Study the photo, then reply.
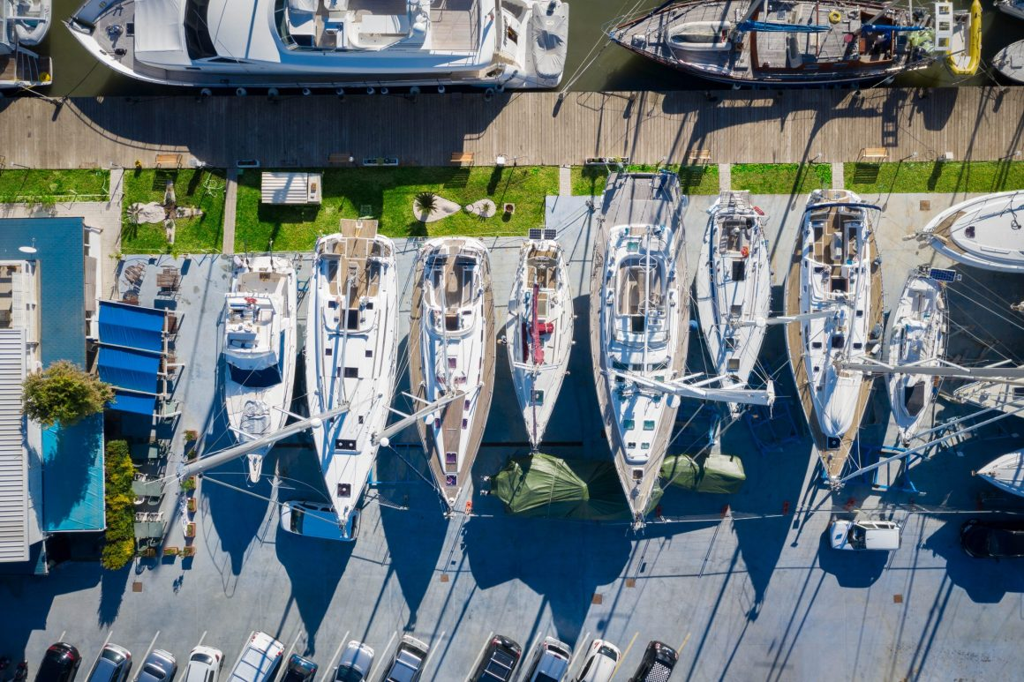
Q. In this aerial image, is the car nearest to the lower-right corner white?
No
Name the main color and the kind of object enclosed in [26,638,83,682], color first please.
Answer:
black car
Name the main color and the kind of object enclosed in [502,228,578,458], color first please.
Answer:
white boat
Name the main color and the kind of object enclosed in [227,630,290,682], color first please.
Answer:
white car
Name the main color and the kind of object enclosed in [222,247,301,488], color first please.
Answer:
white boat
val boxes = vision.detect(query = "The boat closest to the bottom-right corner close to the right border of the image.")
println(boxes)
[969,447,1024,496]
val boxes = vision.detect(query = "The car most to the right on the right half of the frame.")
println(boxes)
[953,516,1024,561]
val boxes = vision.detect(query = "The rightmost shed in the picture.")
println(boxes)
[262,173,329,210]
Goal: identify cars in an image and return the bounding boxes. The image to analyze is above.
[824,517,906,558]
[624,639,679,682]
[227,630,290,682]
[277,651,322,682]
[515,632,574,682]
[26,638,83,682]
[953,516,1024,561]
[174,642,227,682]
[325,638,378,682]
[375,633,432,682]
[465,632,524,682]
[83,639,138,682]
[566,636,622,682]
[134,647,184,682]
